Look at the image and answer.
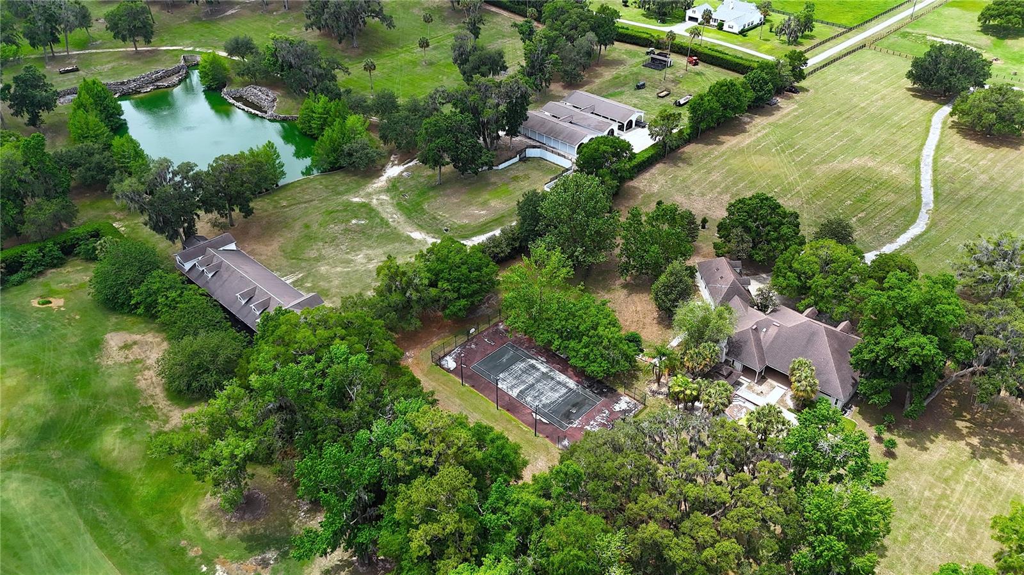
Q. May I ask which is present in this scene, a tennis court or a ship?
tennis court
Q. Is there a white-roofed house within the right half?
Yes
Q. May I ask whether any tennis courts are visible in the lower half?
Yes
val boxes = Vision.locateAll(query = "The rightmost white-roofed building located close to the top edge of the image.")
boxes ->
[686,5,778,34]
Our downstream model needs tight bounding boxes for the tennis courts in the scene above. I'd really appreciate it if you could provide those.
[434,322,644,462]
